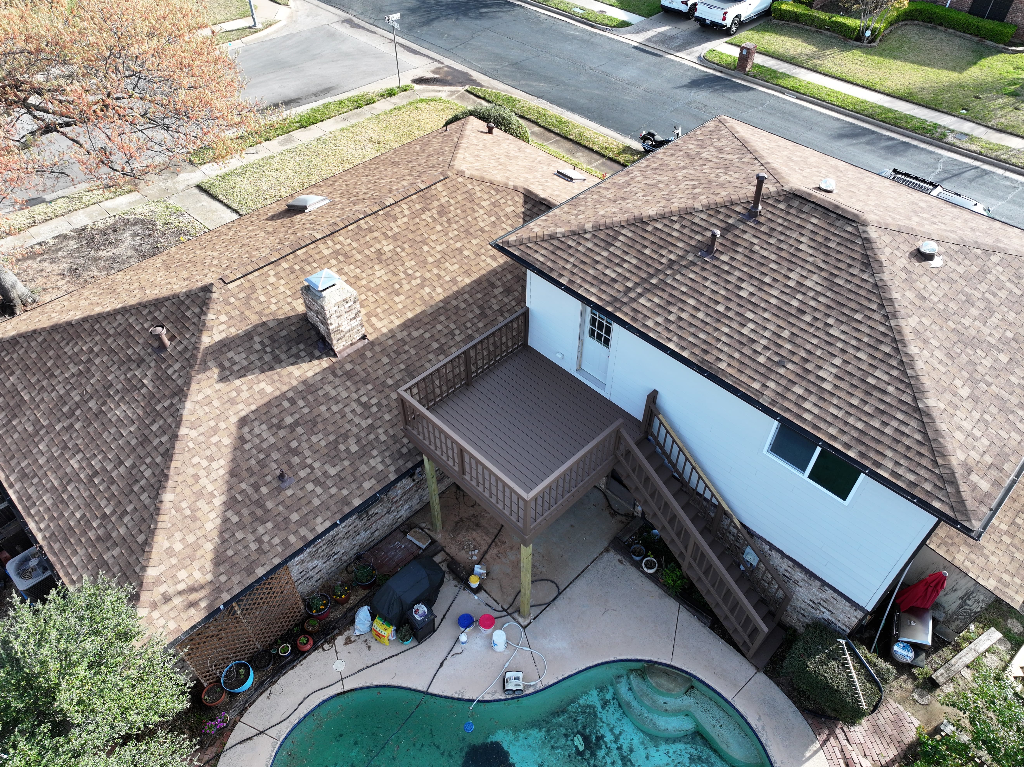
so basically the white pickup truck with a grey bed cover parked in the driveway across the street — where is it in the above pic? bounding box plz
[692,0,778,36]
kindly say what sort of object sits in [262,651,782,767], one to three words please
swimming pool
